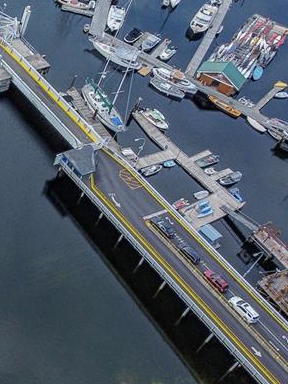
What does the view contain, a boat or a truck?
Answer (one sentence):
There is a boat in the scene.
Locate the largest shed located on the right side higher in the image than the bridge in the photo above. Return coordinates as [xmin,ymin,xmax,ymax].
[199,53,249,96]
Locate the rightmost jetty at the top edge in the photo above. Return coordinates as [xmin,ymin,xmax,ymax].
[217,14,286,87]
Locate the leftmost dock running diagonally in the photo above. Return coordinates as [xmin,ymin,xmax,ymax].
[0,38,50,75]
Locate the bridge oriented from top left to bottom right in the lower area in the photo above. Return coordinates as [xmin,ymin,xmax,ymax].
[52,146,288,384]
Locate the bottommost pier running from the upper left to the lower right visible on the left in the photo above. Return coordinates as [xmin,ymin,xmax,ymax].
[68,90,121,155]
